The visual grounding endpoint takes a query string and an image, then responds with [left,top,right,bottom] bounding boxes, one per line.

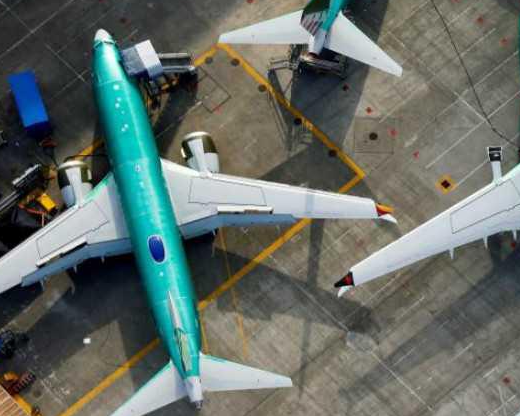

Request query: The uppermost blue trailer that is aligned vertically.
[8,69,51,156]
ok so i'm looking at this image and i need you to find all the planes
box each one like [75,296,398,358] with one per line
[335,143,520,301]
[218,0,402,78]
[0,28,398,416]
